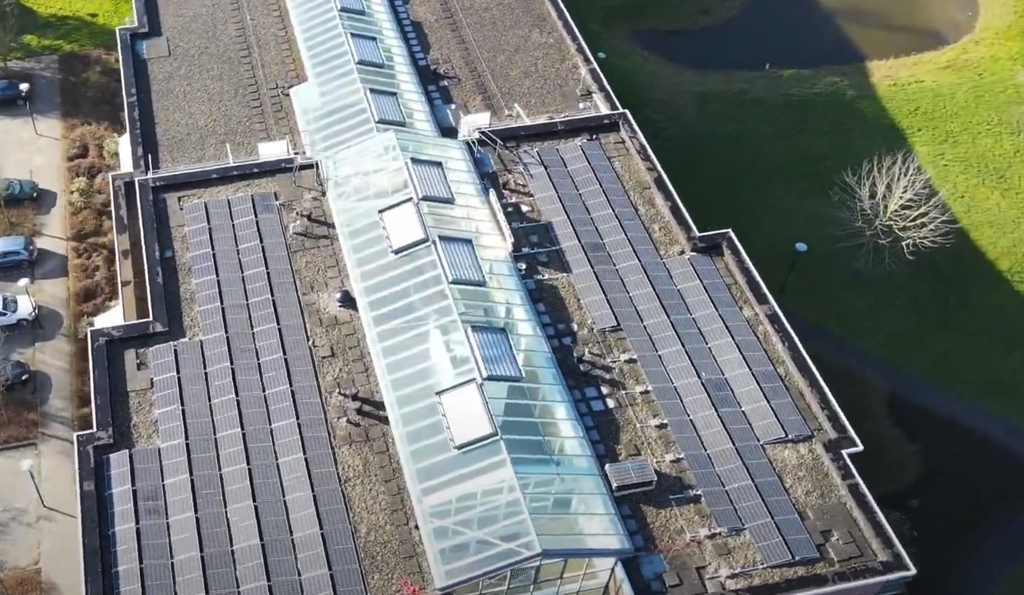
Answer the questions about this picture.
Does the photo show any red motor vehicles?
No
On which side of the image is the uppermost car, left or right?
left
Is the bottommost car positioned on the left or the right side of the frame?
left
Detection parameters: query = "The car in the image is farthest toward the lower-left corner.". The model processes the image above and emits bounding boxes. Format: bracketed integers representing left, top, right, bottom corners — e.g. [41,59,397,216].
[0,362,34,400]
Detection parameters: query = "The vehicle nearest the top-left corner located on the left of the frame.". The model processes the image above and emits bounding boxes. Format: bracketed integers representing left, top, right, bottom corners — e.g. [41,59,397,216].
[0,81,30,109]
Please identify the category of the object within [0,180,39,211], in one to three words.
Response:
car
